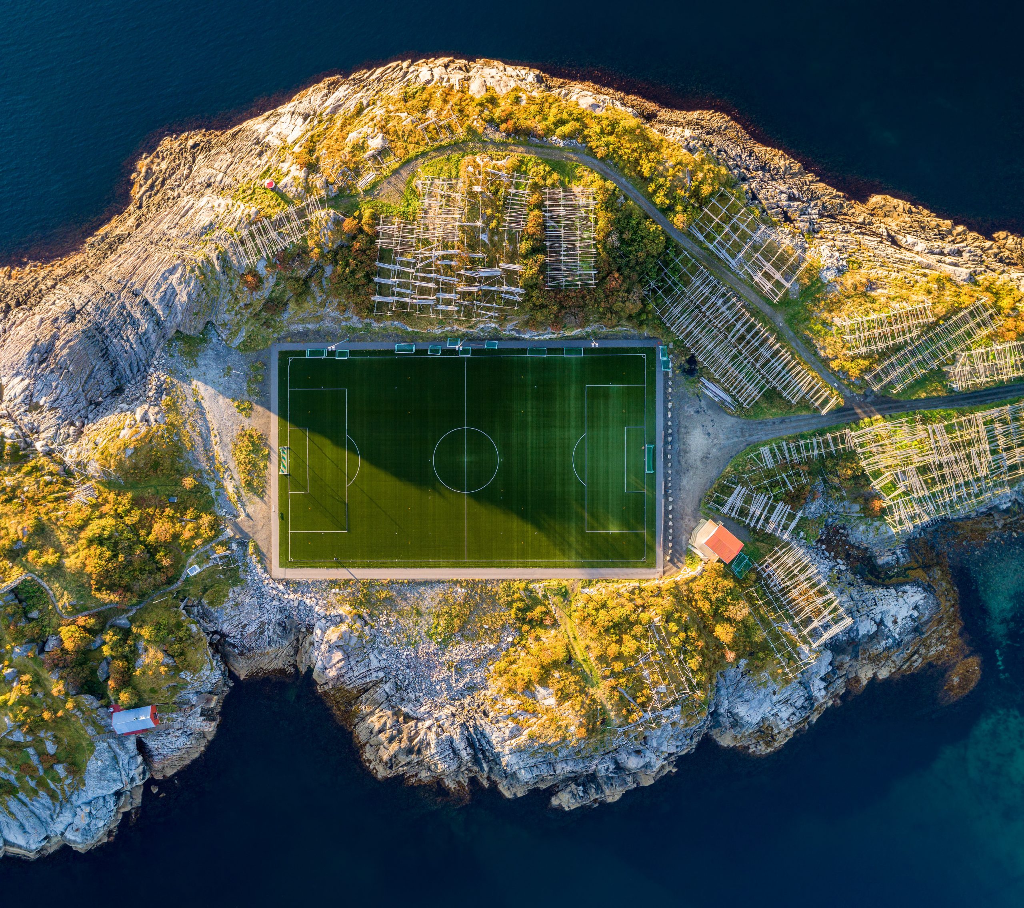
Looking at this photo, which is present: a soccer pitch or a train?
soccer pitch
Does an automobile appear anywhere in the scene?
No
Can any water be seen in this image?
Yes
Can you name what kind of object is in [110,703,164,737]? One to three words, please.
building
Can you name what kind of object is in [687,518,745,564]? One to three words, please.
building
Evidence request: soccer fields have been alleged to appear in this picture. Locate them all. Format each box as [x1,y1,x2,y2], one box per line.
[278,347,656,568]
